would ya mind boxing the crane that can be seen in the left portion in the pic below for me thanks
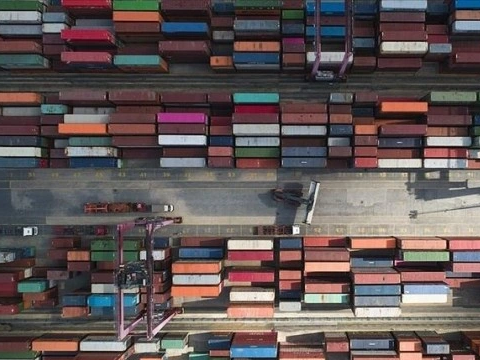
[111,214,188,344]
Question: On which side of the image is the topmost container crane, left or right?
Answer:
right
